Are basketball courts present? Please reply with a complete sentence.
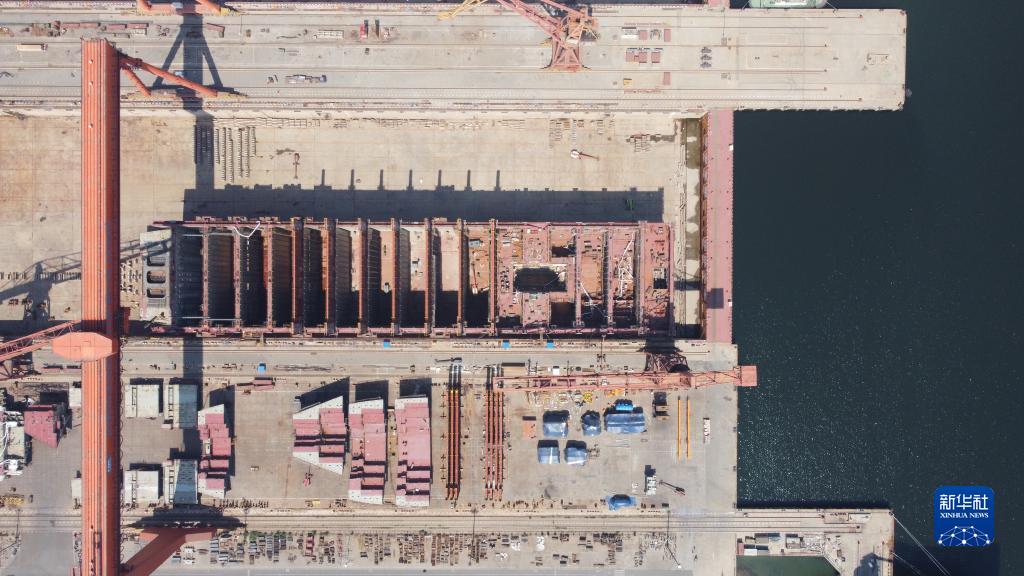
No, this view has no basketball court in it.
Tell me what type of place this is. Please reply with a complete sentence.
The area seen from above is a port.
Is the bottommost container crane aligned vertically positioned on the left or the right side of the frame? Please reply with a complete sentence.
It is on the left.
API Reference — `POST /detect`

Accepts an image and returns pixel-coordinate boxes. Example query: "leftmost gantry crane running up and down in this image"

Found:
[52,37,251,576]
